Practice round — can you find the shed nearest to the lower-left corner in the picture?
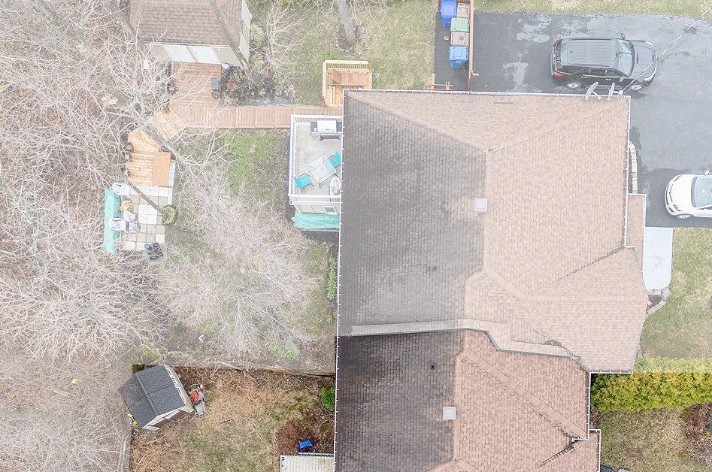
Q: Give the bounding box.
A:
[119,366,195,427]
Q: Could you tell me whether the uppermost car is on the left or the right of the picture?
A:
right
